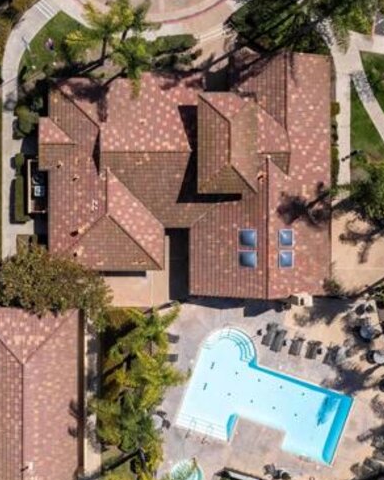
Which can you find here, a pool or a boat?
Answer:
pool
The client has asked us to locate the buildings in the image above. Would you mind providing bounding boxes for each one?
[0,306,82,480]
[39,45,331,307]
